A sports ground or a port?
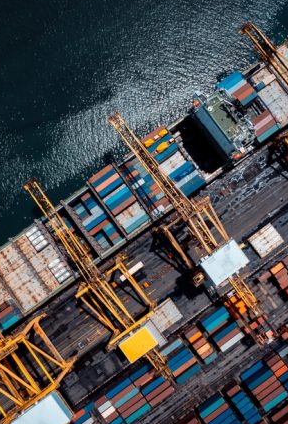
port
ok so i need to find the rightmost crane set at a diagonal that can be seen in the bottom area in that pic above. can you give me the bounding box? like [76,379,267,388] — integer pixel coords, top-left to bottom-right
[223,290,277,348]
